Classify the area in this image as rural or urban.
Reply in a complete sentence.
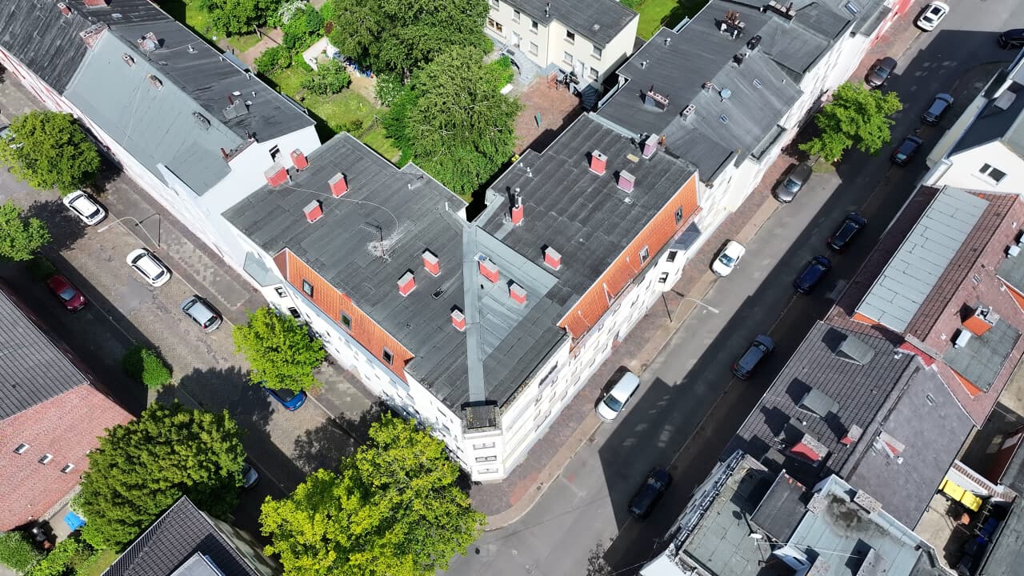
This place is urban.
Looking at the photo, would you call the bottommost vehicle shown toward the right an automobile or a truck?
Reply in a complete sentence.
The bottommost vehicle shown toward the right appears to be an automobile.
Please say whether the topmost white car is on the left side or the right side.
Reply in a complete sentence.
The topmost white car is on the right side of the image.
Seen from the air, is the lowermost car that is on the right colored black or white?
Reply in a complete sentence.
The lowermost car that is on the right is black.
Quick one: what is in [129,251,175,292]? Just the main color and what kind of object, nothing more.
white car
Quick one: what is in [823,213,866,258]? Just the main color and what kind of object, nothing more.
black car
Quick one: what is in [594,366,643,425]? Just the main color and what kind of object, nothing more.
white car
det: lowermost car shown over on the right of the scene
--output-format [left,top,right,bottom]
[620,463,675,528]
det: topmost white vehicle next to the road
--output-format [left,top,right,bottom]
[914,0,949,36]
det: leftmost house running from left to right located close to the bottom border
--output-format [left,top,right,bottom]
[87,494,268,576]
